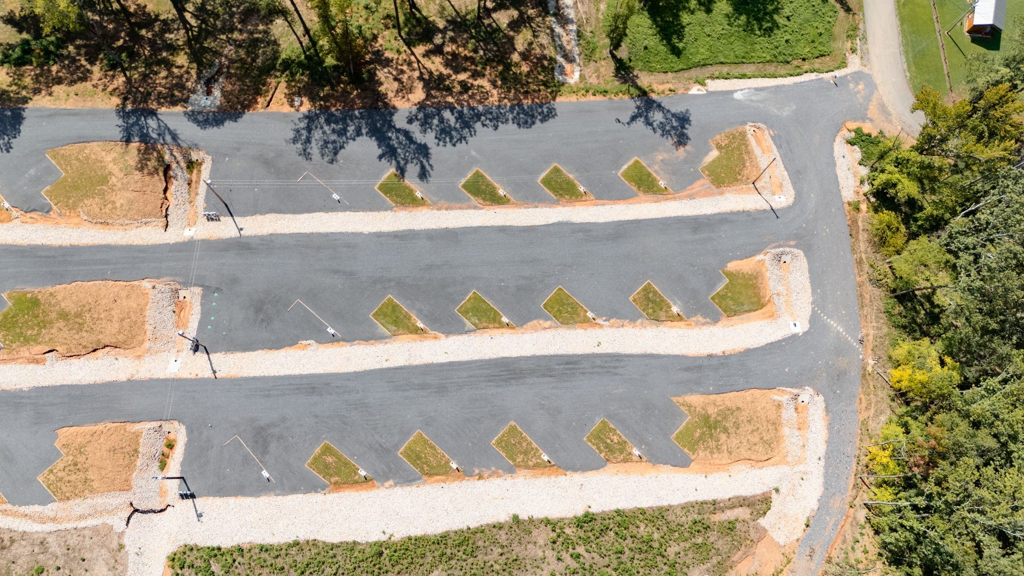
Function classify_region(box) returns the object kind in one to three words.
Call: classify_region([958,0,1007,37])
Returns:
shed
